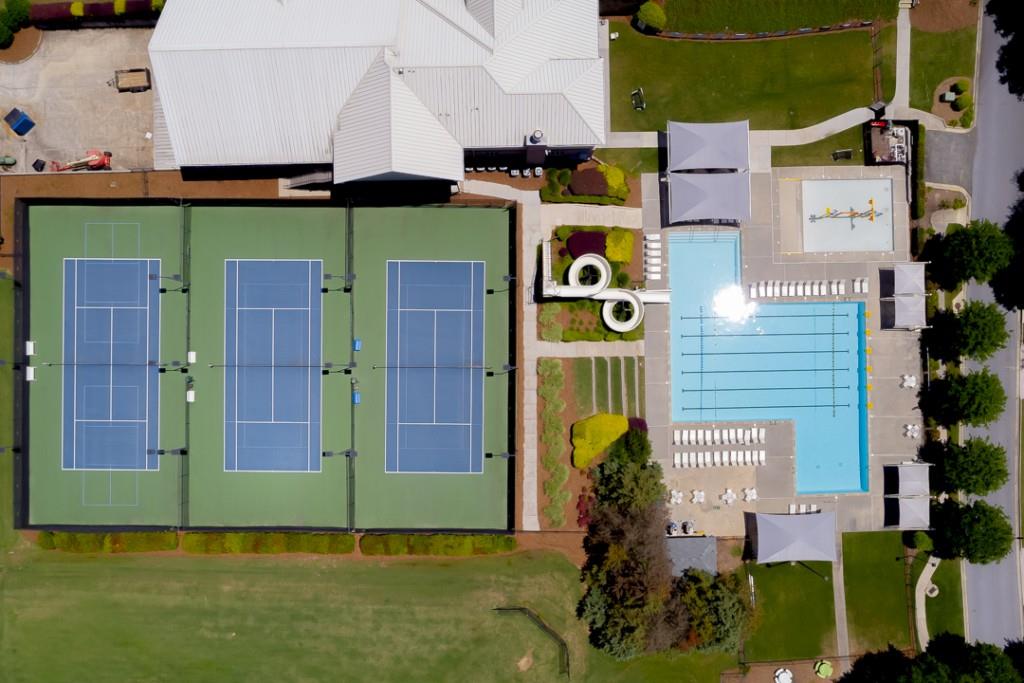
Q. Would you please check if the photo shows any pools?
Yes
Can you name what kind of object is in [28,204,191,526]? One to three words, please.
tennis court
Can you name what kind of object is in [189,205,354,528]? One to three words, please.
tennis court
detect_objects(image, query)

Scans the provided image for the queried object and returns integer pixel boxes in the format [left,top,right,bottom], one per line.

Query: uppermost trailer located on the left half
[106,66,149,92]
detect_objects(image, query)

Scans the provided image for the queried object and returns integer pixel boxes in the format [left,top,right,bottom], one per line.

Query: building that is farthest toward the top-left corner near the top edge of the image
[148,0,605,184]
